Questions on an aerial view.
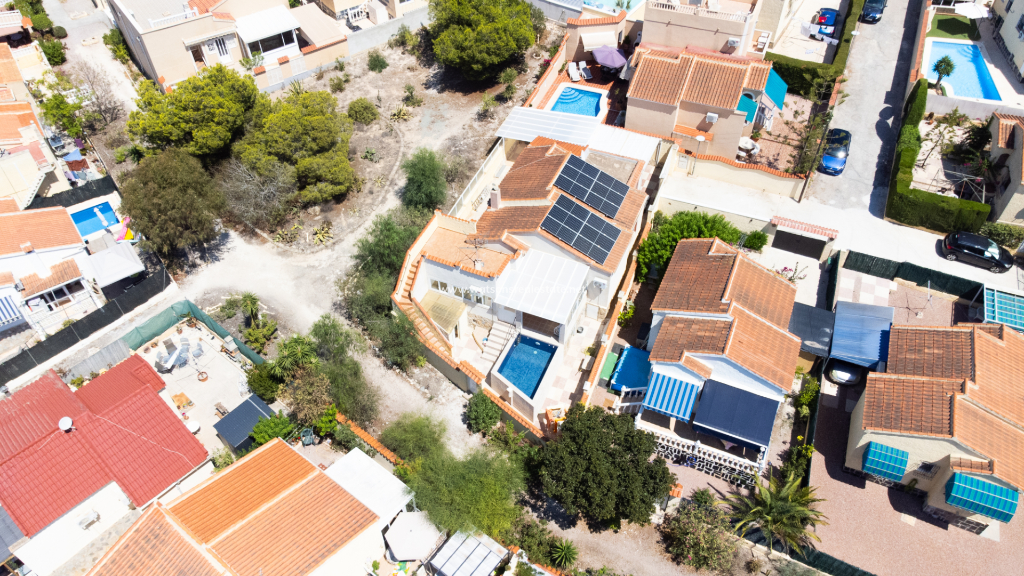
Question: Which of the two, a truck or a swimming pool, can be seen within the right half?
swimming pool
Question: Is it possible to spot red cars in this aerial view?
No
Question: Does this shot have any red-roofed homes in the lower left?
Yes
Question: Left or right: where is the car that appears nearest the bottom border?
right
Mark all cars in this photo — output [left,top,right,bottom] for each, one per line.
[813,13,841,40]
[945,230,1023,276]
[818,127,852,172]
[865,0,888,20]
[827,358,868,396]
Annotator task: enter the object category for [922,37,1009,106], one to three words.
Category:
swimming pool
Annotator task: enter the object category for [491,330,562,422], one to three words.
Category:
swimming pool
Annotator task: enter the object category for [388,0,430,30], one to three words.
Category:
house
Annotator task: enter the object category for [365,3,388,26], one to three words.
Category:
shed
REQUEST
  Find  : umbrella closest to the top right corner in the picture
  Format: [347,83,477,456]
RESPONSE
[951,3,993,37]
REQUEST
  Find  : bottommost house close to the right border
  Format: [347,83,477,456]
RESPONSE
[847,319,1024,536]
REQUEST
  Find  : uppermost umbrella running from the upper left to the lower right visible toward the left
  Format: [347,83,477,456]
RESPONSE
[94,206,118,238]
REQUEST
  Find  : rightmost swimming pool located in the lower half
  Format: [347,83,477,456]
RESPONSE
[608,345,653,400]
